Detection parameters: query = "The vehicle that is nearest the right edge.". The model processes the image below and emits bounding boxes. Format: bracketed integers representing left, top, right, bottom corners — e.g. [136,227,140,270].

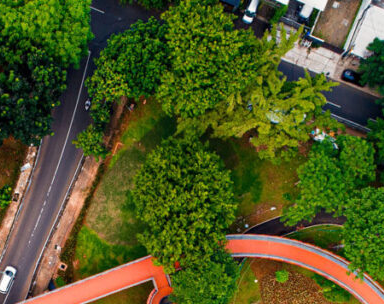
[341,69,368,88]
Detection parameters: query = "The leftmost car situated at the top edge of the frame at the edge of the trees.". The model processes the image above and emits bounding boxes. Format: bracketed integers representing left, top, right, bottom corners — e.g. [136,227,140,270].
[241,0,262,24]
